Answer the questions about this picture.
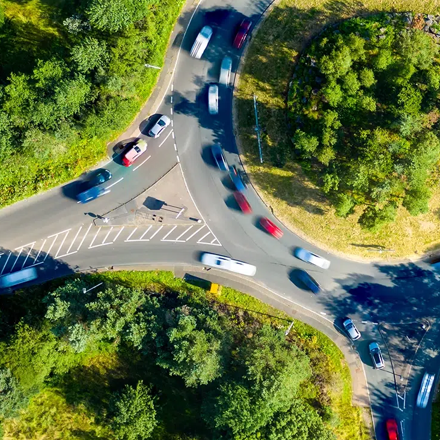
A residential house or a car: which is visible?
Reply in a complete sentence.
There is a car in the scene.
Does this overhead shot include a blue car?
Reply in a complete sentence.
Yes, a blue car can be made out from above.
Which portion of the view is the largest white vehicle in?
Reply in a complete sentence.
The largest white vehicle is in the center part of the image.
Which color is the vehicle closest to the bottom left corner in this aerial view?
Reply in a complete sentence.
From above, the vehicle closest to the bottom left corner appears blue.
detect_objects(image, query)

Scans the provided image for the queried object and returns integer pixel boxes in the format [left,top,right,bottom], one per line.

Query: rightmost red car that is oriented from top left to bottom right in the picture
[258,215,285,241]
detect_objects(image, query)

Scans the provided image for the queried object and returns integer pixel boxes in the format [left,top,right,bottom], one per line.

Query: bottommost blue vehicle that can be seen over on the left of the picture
[1,267,38,289]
